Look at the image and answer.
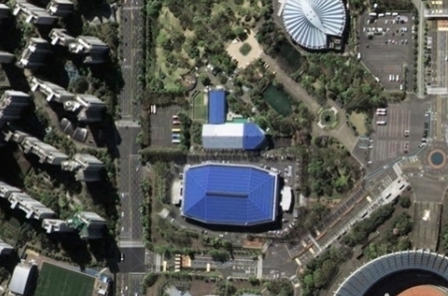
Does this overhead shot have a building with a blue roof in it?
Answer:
Yes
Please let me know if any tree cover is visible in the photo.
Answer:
Yes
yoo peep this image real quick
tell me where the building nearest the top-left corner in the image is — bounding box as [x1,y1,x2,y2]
[0,4,20,32]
